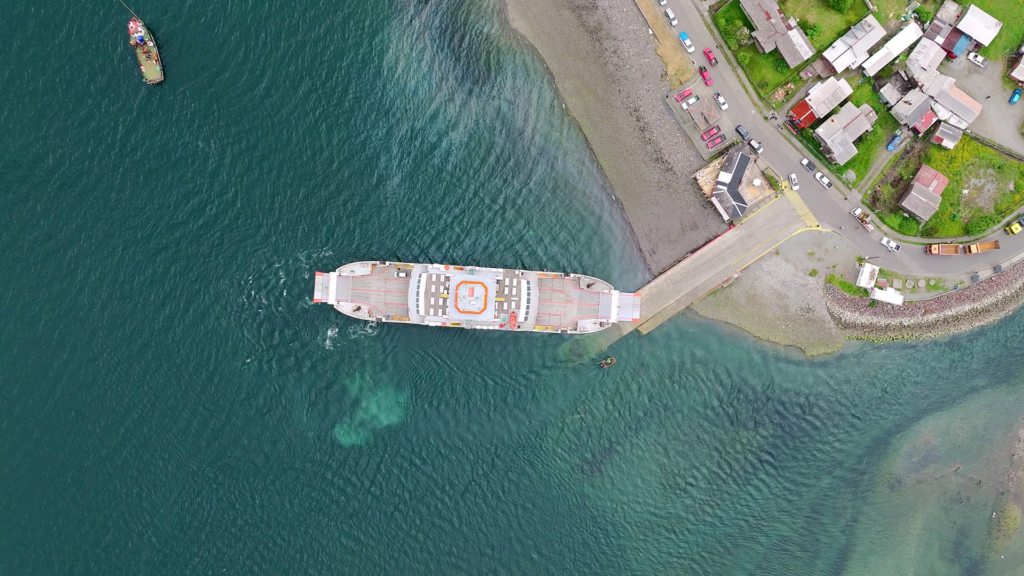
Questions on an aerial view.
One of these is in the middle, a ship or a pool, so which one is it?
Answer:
ship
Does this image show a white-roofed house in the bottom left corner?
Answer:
No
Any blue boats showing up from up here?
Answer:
No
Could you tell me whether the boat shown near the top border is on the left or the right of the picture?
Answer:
left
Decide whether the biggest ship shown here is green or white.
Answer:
white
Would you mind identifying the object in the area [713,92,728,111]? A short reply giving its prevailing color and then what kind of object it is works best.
white vehicle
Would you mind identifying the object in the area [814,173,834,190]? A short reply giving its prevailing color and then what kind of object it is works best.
white vehicle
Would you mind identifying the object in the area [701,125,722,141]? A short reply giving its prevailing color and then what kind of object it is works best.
red vehicle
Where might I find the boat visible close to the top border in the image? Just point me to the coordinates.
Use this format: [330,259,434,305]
[128,17,165,84]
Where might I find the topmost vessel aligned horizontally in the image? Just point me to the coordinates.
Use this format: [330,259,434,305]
[313,260,640,334]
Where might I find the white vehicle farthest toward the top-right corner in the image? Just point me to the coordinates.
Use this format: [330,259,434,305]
[967,54,989,68]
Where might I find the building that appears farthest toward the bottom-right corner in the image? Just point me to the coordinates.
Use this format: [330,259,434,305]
[867,287,904,305]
